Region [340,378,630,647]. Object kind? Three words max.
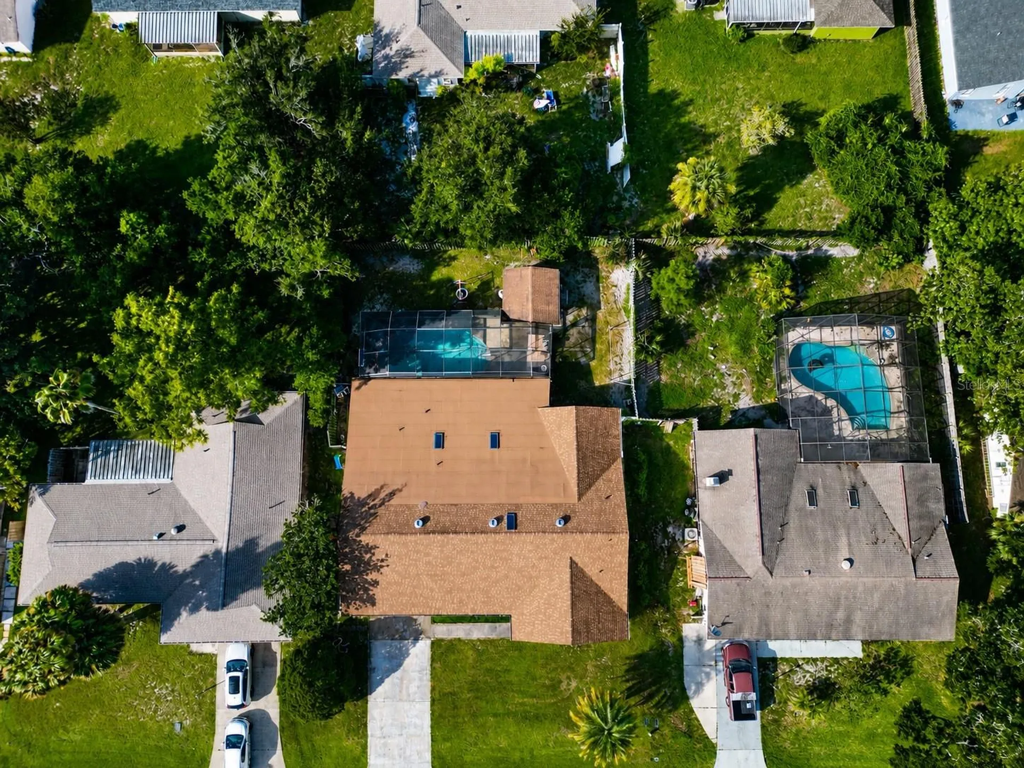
house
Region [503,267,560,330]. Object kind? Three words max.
shed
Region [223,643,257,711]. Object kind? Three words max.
car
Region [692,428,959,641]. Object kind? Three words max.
house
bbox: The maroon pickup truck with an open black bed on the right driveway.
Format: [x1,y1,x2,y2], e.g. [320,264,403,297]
[721,642,757,725]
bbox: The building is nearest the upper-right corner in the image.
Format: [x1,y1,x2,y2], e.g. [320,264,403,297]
[936,0,1024,107]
